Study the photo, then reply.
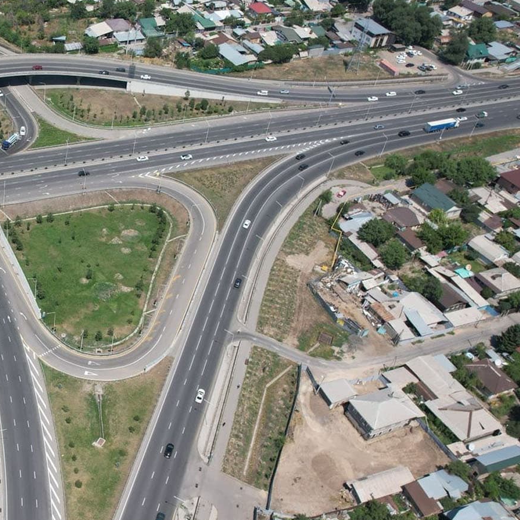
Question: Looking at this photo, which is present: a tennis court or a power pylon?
power pylon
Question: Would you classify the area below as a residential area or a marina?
residential area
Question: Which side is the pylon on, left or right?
right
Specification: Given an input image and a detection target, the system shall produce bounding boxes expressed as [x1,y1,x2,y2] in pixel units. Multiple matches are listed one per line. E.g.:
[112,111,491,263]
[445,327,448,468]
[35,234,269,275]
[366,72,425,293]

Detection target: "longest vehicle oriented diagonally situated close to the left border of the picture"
[1,132,19,149]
